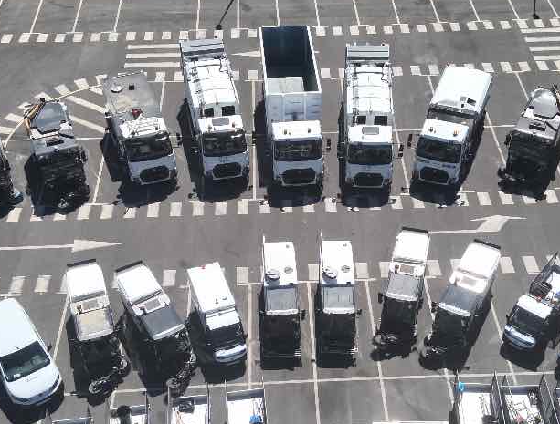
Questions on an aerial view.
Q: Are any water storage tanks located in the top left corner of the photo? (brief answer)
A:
No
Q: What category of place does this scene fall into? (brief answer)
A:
parking lot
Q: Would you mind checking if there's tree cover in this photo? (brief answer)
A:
No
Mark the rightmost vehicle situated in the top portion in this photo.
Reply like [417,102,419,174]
[495,85,560,190]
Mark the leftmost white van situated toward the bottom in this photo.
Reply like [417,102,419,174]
[0,301,61,407]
